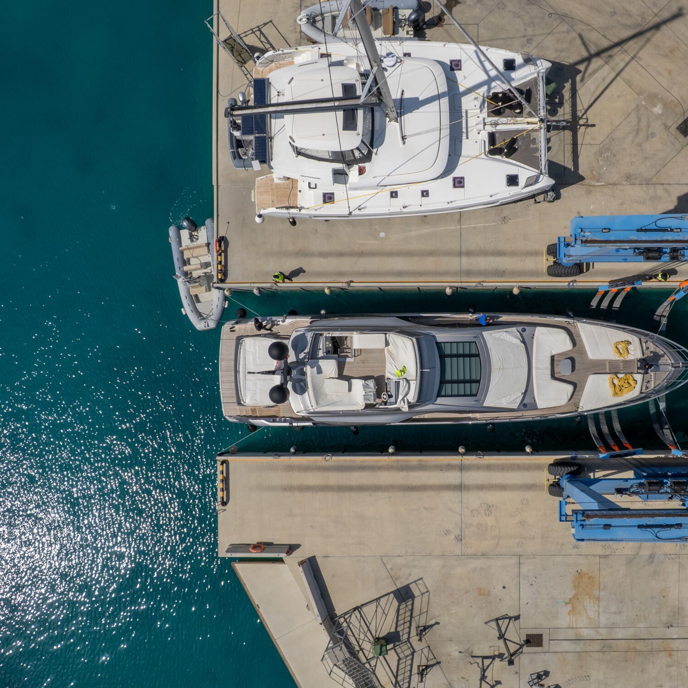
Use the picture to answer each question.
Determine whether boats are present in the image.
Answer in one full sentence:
Yes, the frame does contain a boat.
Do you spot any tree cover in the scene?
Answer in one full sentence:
No, there's no tree cover in this view.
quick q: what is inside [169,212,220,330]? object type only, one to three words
boat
